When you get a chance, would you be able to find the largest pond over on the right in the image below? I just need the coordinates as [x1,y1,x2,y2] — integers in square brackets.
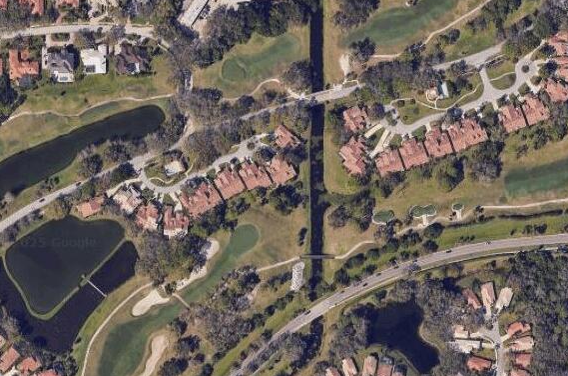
[363,298,440,373]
